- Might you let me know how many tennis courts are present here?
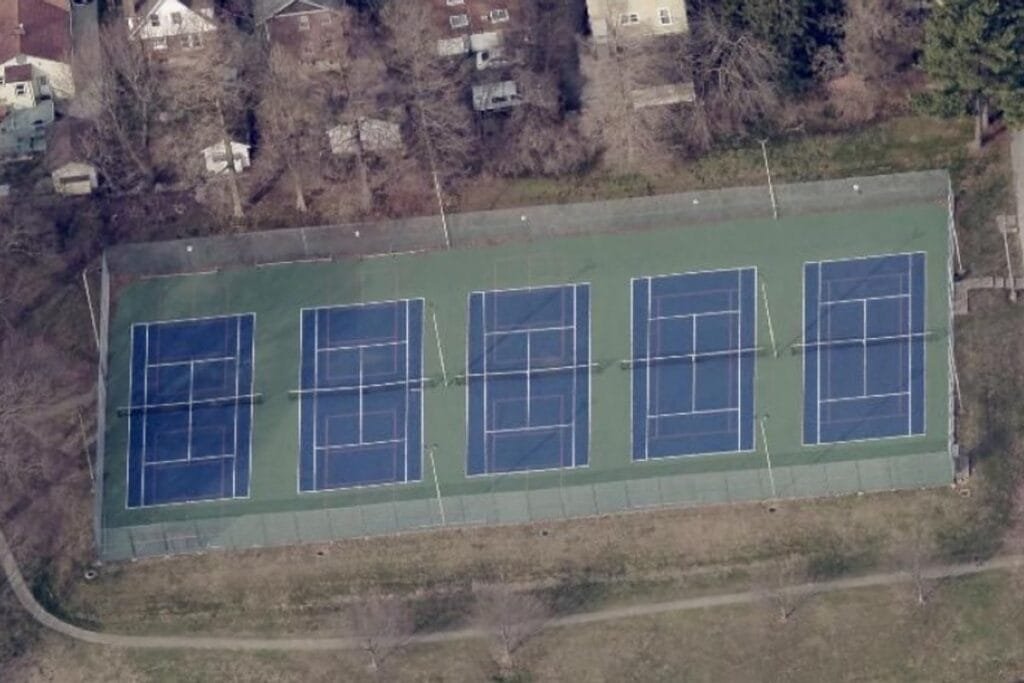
5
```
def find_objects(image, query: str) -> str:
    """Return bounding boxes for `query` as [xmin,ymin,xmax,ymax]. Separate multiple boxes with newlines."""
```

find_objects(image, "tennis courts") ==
[298,274,423,518]
[801,252,928,445]
[126,290,254,533]
[633,267,756,460]
[466,258,589,502]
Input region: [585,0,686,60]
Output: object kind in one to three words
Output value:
house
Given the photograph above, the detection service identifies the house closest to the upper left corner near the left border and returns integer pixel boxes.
[0,0,79,115]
